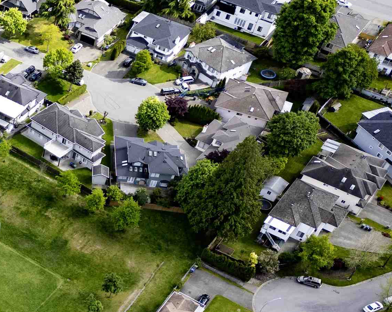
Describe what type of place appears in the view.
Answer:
residential area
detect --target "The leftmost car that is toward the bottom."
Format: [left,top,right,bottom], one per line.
[196,292,214,306]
